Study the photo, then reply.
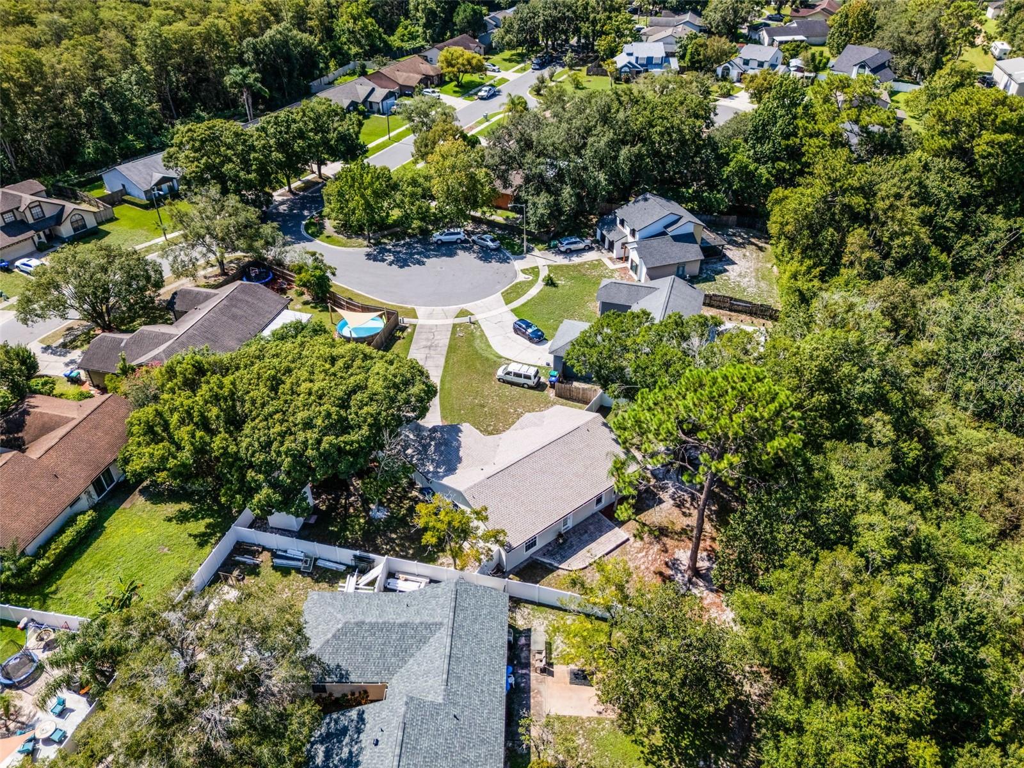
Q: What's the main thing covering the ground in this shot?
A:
trees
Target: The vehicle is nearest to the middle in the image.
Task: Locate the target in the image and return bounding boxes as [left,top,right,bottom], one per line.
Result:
[495,361,542,387]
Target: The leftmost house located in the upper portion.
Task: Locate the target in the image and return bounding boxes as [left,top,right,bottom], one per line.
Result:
[0,183,98,259]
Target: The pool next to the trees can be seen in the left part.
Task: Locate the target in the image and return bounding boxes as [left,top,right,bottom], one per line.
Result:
[335,316,386,348]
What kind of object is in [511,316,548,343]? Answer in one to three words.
car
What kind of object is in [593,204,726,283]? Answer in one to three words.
house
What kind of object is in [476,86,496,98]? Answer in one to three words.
vehicle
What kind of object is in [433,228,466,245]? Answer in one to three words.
car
